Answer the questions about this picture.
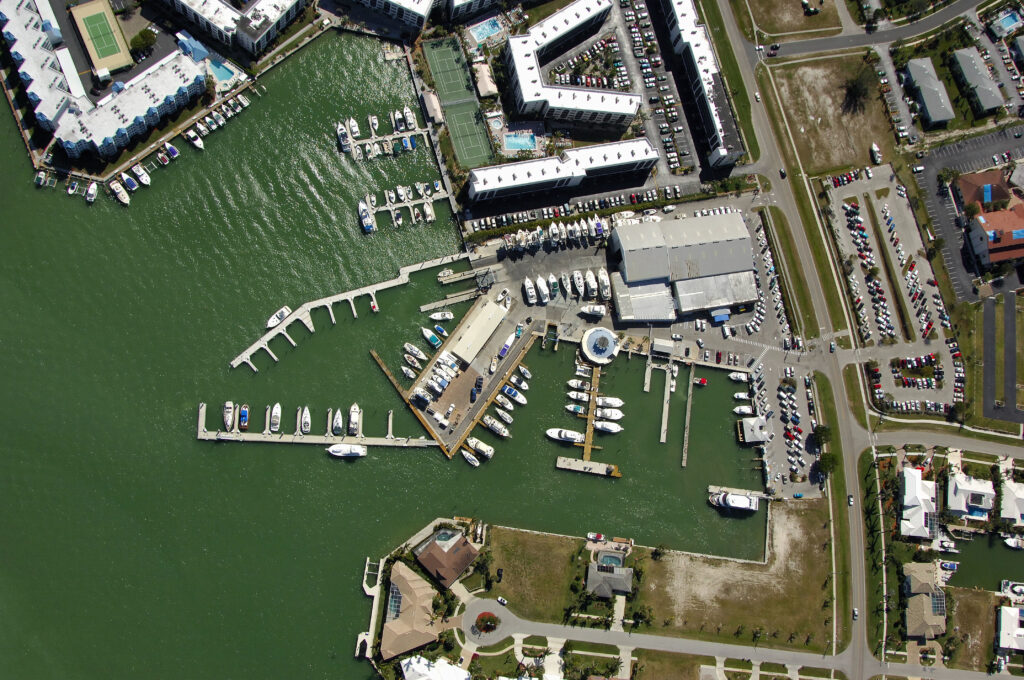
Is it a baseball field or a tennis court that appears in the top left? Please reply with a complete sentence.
It is a tennis court that can be seen in the top left.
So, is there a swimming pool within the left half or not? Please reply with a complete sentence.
Yes, I can see a swimming pool within the left half.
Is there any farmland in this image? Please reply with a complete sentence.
No, the picture contains no farmland.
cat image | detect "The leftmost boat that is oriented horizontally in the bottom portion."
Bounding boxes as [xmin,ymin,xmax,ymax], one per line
[327,443,368,456]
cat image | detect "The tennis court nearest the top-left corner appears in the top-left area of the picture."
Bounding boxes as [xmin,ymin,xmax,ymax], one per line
[70,0,135,77]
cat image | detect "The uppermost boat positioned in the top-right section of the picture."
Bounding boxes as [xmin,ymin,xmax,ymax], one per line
[868,142,882,166]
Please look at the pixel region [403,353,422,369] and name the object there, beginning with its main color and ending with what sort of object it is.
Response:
white boat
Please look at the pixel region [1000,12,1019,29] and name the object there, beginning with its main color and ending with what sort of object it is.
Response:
blue swimming pool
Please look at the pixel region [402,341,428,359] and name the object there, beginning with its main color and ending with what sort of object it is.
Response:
white boat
